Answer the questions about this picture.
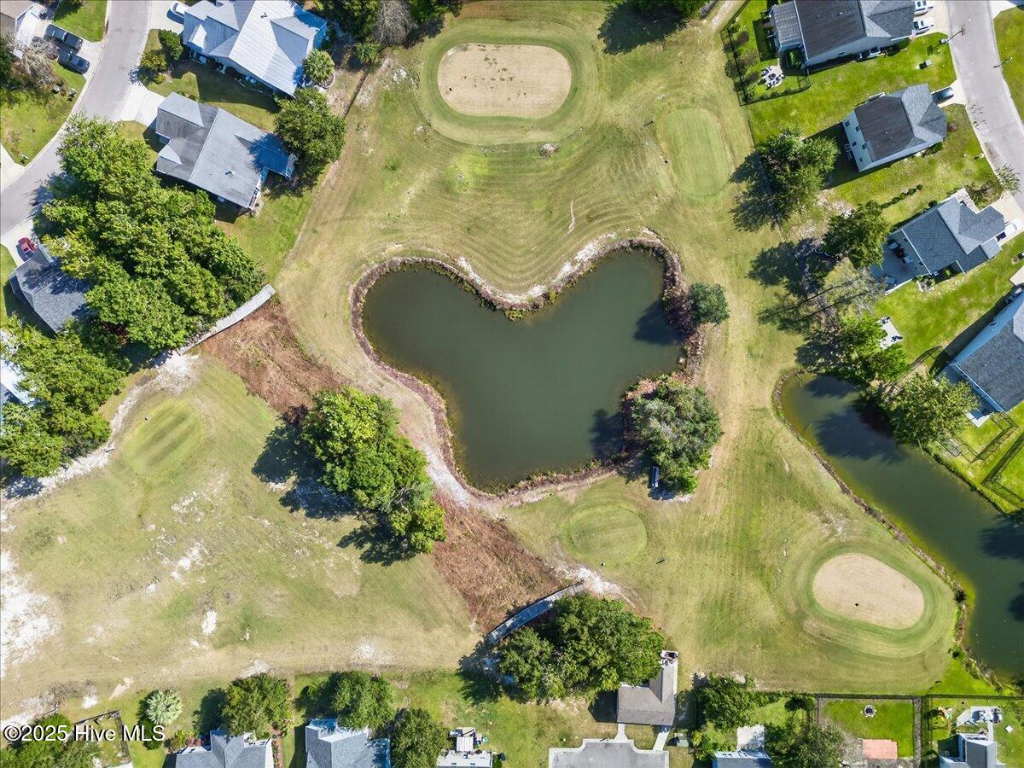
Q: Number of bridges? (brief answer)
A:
2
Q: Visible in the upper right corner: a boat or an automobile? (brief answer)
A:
automobile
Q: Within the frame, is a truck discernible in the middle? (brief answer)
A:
No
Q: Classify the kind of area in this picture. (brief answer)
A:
golf course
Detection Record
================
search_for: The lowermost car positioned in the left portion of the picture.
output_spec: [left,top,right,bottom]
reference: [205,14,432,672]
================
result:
[14,231,41,260]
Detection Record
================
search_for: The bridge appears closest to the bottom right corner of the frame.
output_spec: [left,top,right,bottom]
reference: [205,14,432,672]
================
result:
[486,580,589,645]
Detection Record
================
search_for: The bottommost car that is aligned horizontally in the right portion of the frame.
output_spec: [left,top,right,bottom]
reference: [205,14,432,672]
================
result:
[920,84,959,106]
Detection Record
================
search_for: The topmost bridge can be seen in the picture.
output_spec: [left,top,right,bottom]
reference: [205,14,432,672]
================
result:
[180,283,275,356]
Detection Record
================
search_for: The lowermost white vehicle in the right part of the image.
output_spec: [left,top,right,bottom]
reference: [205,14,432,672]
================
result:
[996,217,1024,243]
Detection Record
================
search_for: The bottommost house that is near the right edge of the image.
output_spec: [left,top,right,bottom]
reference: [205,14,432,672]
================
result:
[930,733,1008,768]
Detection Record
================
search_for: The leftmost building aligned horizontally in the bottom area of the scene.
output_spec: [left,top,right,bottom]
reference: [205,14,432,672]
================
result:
[174,724,270,768]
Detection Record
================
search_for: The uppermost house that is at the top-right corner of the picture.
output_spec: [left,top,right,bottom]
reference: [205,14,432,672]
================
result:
[782,0,914,66]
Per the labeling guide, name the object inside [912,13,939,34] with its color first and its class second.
white car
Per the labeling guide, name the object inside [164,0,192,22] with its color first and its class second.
white car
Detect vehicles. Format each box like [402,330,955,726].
[996,217,1024,243]
[14,231,41,260]
[43,23,87,55]
[164,0,192,22]
[920,84,959,106]
[57,49,94,76]
[909,0,938,16]
[912,13,939,34]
